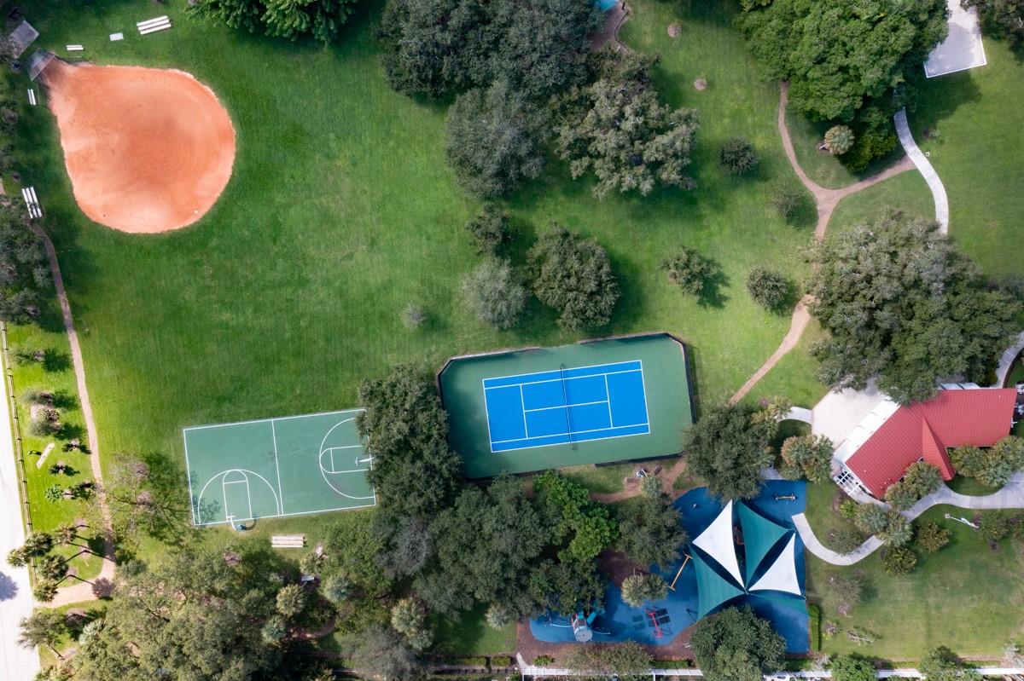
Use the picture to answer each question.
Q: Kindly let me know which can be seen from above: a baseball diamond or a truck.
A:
baseball diamond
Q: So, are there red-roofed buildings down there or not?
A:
Yes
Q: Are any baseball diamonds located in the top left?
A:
Yes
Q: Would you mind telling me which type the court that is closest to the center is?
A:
tennis court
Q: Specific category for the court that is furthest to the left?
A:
basketball court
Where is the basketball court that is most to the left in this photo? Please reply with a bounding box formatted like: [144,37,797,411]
[182,409,377,526]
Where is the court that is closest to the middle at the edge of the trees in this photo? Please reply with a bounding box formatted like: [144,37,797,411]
[438,334,693,478]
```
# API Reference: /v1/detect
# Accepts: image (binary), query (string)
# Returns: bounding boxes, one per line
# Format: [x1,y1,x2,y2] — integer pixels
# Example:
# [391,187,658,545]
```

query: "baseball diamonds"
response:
[39,57,235,234]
